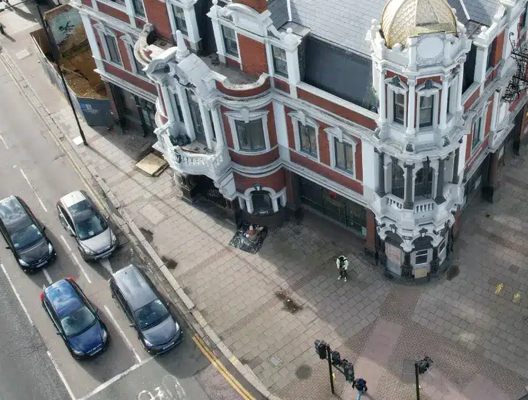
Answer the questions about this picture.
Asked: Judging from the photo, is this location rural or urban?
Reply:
urban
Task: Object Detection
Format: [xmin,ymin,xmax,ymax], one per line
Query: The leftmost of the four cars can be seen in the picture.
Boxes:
[0,192,60,281]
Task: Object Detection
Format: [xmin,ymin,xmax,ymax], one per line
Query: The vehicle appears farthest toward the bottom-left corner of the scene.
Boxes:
[33,270,112,368]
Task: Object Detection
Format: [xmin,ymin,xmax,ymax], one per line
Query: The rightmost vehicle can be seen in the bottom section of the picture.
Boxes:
[103,264,186,361]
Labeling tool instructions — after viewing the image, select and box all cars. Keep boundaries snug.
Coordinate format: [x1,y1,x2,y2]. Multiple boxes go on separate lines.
[52,188,123,269]
[33,270,112,368]
[0,192,60,281]
[103,264,186,361]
